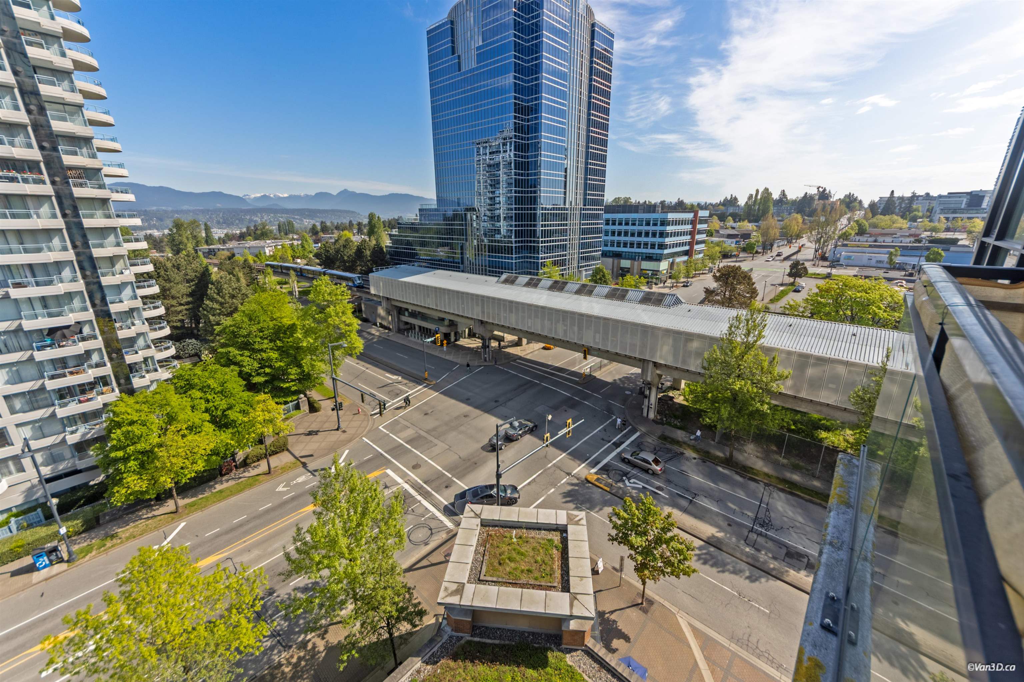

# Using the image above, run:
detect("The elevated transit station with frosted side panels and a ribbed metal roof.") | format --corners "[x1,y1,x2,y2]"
[361,261,899,422]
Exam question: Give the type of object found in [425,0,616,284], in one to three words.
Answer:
building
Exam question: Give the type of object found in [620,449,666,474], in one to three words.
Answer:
car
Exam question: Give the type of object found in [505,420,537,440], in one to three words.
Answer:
car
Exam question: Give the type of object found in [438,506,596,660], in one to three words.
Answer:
building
